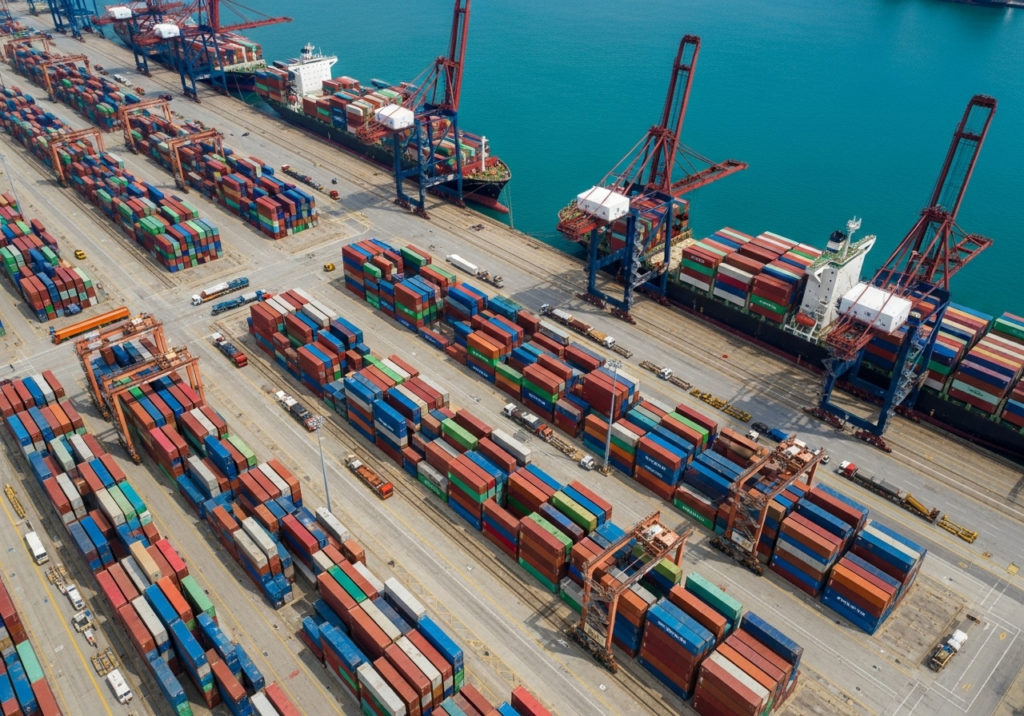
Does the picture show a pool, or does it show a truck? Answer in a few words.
truck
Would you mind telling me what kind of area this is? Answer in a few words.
port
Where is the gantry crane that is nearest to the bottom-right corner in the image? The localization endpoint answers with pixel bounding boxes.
[705,431,833,573]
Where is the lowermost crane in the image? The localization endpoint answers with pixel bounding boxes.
[559,503,700,670]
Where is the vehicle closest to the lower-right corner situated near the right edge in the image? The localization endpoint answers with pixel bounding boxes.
[932,623,978,665]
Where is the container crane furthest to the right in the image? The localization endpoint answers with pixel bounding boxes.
[795,82,1010,452]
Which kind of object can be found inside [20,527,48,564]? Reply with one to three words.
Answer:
bus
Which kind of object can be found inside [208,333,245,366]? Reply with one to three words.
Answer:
truck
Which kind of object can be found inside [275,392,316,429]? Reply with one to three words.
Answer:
truck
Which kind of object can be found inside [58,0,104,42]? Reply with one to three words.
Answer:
container crane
